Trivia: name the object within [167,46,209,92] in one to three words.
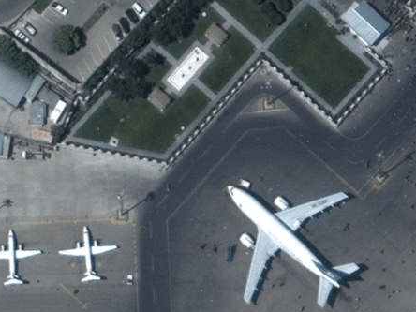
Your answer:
building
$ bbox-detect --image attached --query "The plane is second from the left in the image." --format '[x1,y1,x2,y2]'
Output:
[58,225,116,279]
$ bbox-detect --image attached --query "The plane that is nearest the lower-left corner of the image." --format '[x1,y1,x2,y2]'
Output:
[0,227,41,281]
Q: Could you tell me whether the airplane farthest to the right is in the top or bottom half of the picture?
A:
bottom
